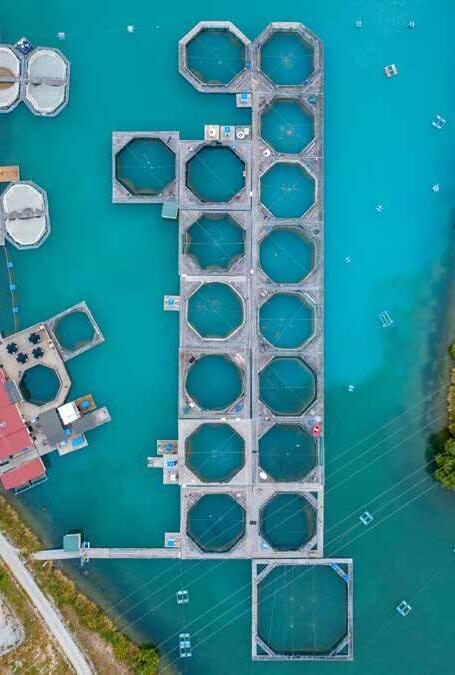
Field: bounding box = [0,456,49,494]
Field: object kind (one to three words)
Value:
shed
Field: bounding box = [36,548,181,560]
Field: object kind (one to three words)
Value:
pier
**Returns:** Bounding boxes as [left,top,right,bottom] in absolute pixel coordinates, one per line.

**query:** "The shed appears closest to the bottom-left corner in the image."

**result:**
[63,531,82,552]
